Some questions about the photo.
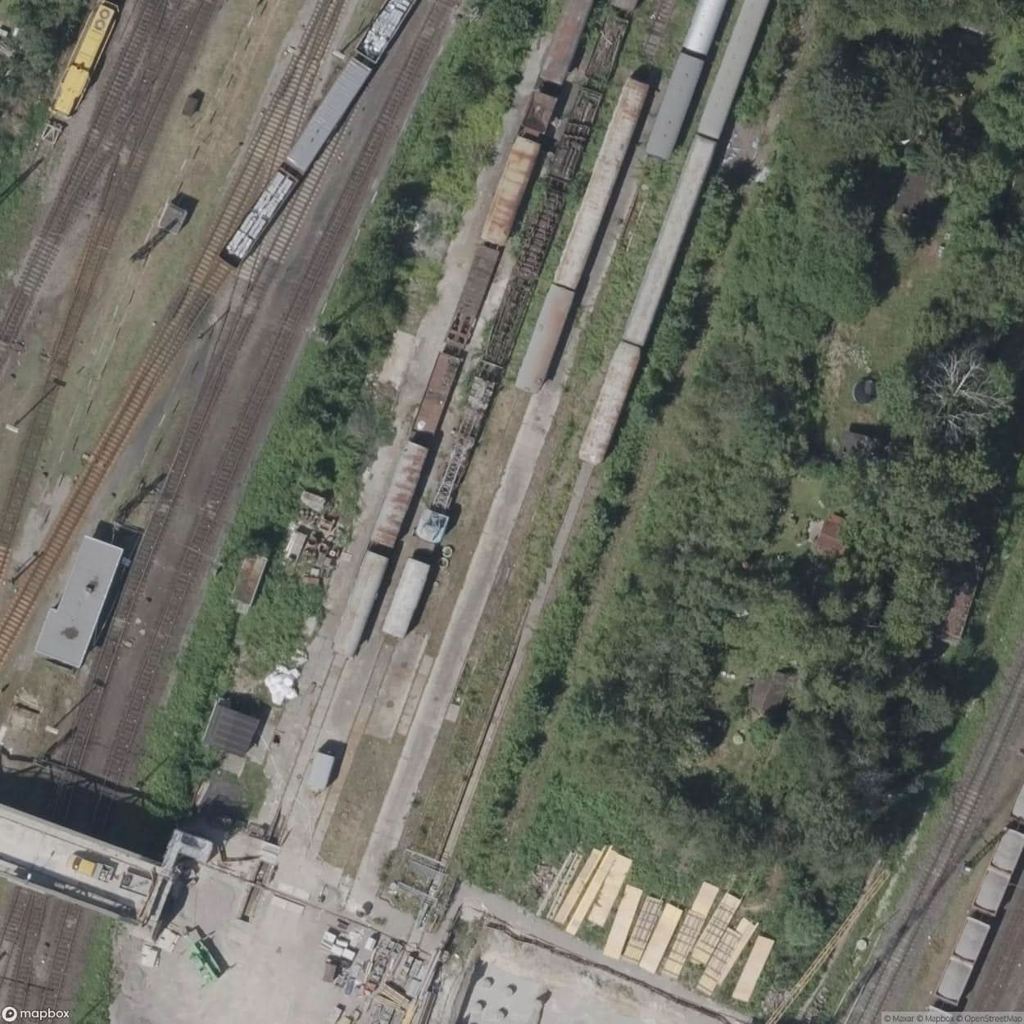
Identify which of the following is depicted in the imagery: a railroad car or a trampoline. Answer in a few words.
railroad car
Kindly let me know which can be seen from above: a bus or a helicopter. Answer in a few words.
bus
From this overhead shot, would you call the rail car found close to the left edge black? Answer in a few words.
No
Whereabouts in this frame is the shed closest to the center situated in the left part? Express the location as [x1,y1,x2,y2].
[232,557,269,606]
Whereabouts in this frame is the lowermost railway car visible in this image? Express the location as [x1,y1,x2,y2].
[924,1003,954,1024]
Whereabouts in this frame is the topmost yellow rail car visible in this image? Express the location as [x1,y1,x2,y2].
[49,0,123,121]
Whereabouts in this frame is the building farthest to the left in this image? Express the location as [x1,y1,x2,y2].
[35,536,124,669]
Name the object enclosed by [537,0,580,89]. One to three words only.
rail car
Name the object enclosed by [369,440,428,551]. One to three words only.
rail car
